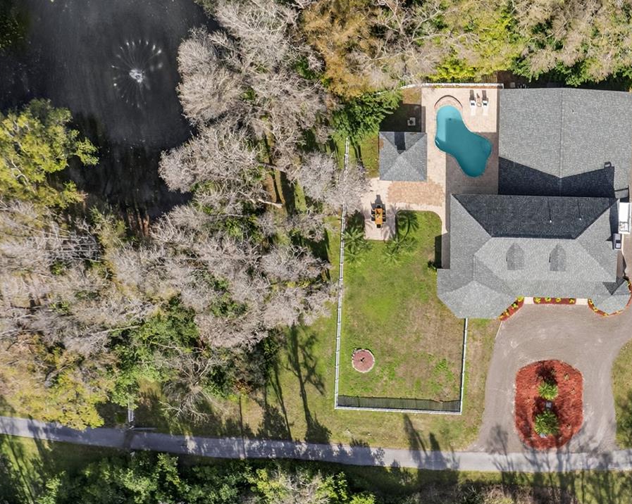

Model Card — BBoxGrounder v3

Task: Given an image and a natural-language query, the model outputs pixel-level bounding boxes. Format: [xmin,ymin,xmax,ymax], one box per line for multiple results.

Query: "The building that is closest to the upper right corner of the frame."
[498,88,632,201]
